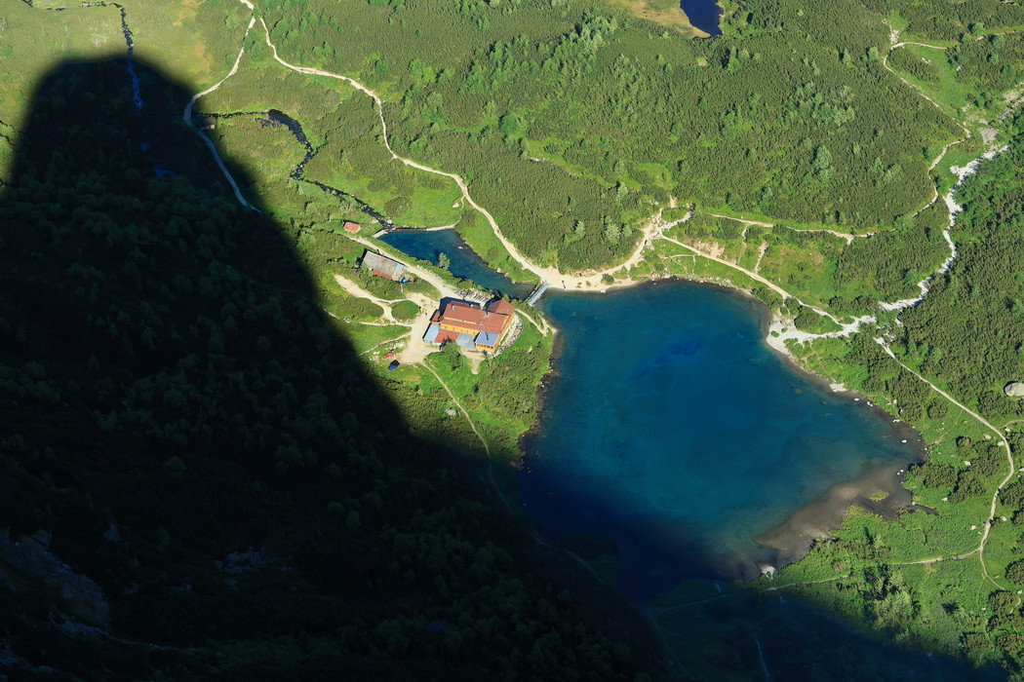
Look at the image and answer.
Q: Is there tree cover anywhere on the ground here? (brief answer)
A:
Yes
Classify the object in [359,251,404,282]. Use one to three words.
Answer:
barn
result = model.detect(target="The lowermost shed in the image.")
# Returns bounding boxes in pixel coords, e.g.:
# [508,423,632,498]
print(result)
[424,298,516,353]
